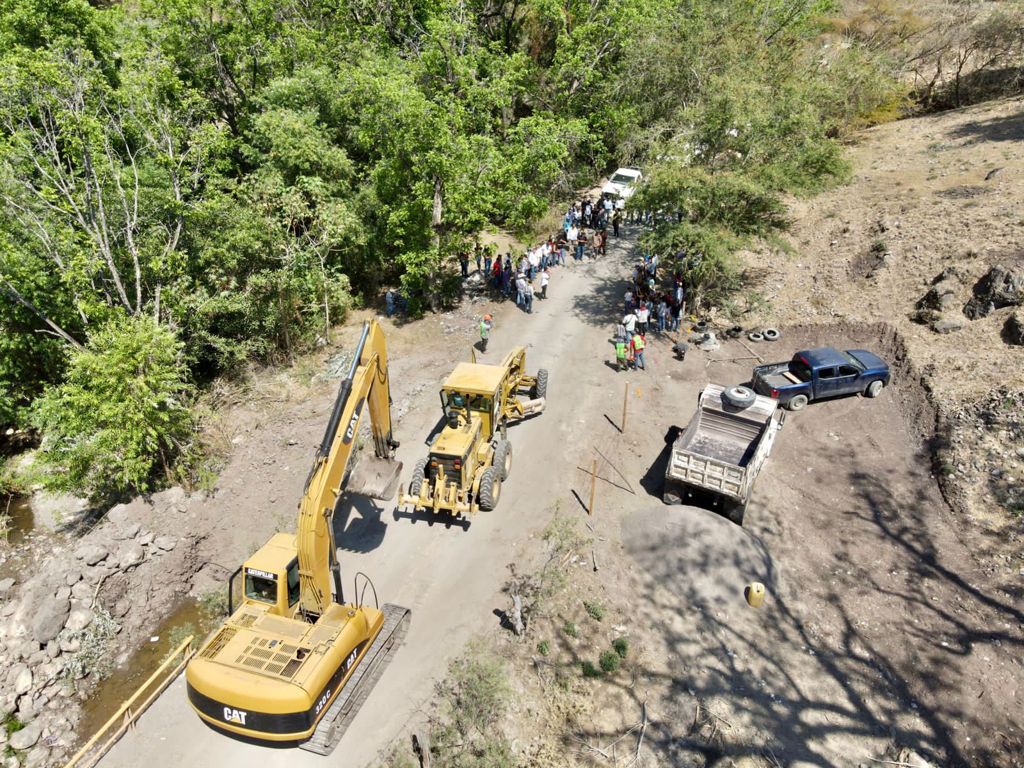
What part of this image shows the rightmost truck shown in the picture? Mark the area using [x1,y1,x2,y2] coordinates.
[747,344,897,409]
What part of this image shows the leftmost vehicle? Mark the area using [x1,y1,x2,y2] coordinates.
[193,314,412,757]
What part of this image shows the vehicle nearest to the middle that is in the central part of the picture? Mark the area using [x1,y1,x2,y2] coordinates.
[406,344,551,531]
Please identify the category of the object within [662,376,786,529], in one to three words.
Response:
truck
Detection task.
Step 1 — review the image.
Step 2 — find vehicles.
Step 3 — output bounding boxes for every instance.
[662,376,786,529]
[193,314,412,757]
[603,162,649,206]
[747,344,897,409]
[406,344,551,531]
